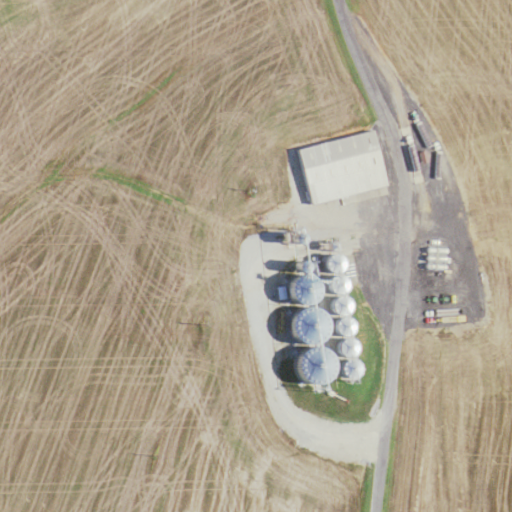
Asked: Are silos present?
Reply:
Yes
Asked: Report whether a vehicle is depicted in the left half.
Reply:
No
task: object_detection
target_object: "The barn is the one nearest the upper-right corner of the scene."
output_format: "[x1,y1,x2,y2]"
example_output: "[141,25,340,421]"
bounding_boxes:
[297,131,386,205]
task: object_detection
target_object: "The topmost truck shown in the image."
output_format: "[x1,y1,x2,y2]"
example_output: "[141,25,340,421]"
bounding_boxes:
[410,110,434,150]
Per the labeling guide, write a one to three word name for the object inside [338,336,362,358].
silo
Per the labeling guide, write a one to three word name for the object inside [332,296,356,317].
silo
